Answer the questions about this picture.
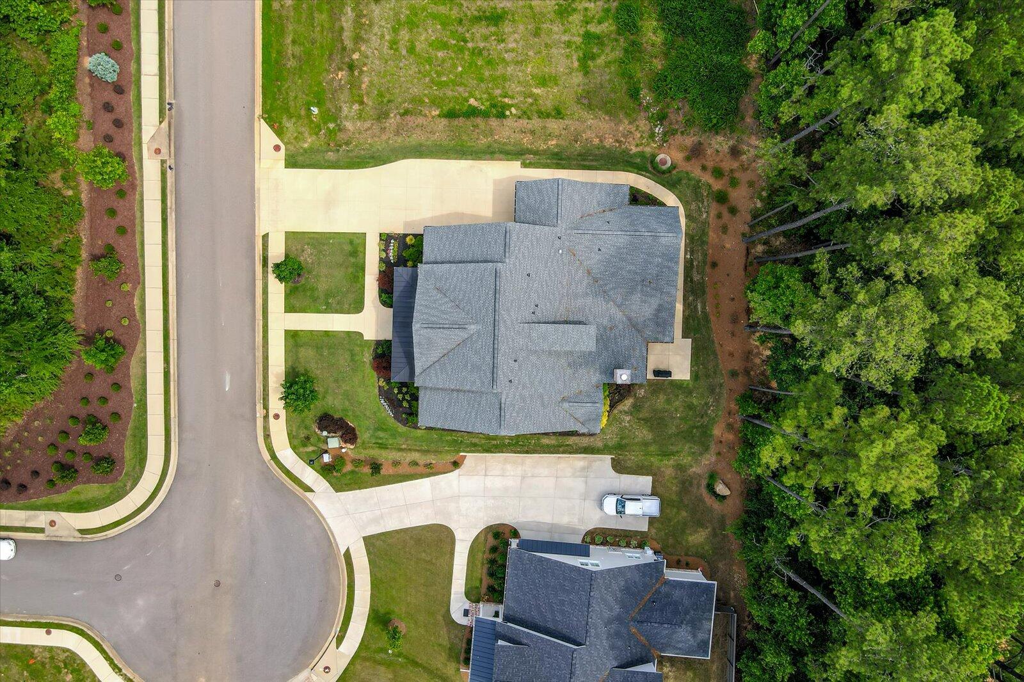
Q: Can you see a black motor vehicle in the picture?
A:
No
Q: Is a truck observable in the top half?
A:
No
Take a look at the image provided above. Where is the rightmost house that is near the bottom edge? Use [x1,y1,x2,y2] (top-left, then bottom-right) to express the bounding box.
[470,539,718,682]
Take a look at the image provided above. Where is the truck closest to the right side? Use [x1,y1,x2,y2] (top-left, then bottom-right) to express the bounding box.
[600,492,661,519]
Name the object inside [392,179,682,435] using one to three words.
house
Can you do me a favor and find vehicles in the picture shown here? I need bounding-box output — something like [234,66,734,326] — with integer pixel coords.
[0,536,19,559]
[600,492,661,519]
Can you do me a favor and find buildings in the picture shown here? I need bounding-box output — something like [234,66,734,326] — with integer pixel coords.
[392,179,682,435]
[470,539,718,682]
